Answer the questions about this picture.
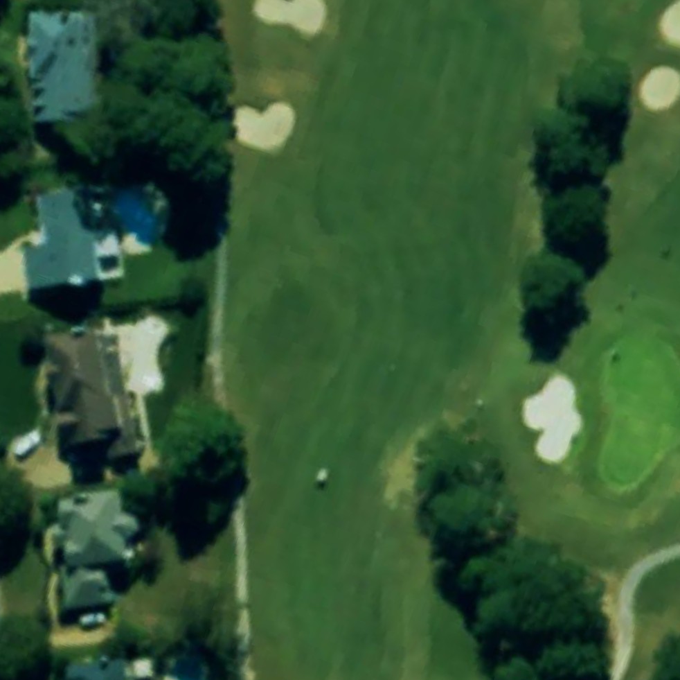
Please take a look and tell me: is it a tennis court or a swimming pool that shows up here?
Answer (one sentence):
Looking from above, you can make out a swimming pool.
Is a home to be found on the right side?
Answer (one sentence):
No, on the right side there is no home.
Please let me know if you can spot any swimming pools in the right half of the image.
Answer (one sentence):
No, in the right half of the image there is no swimming pool.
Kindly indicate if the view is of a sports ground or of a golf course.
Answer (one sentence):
The picture captures a golf course.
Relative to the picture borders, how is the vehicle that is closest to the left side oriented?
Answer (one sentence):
What the image shows is the vehicle that is closest to the left side lying at an angle.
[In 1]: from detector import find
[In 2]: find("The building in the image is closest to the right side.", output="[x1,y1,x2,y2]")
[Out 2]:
[133,657,154,679]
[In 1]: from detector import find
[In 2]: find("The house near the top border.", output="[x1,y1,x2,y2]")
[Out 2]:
[25,12,96,121]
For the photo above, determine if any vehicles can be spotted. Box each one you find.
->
[79,614,105,627]
[13,430,40,457]
[316,469,326,483]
